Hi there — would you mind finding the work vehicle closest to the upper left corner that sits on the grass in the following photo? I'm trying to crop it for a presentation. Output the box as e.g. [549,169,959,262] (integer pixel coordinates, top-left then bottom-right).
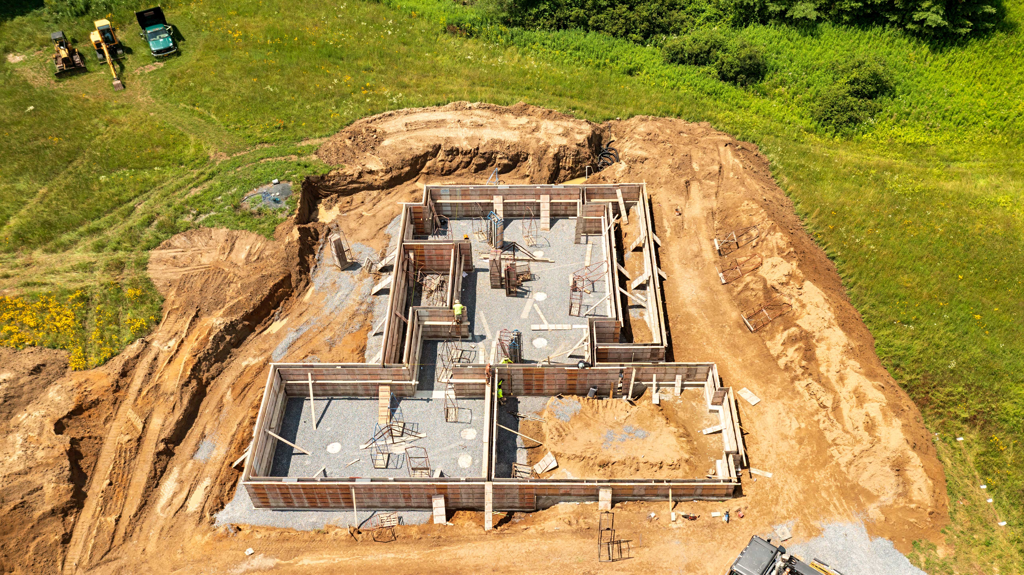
[51,32,88,78]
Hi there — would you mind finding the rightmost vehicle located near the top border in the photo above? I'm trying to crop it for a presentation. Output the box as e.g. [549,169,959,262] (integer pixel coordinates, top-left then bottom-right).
[132,0,176,56]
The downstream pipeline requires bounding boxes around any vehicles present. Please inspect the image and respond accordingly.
[89,18,126,87]
[132,0,176,56]
[51,32,88,78]
[732,530,875,575]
